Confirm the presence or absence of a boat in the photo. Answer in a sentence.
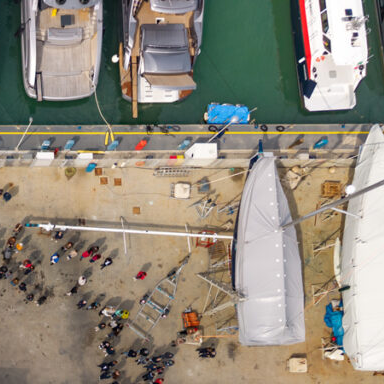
Yes, the image includes a boat.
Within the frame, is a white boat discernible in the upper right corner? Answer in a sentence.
Yes, a white boat shows up in the upper right corner.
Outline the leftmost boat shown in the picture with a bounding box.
[17,0,100,102]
